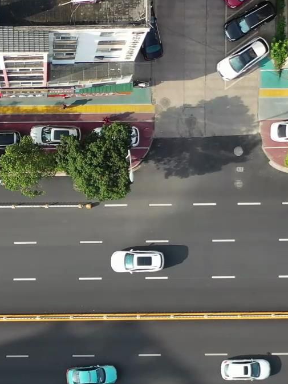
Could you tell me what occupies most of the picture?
paved ground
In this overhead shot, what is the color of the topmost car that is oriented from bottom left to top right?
black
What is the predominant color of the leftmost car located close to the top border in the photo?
black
